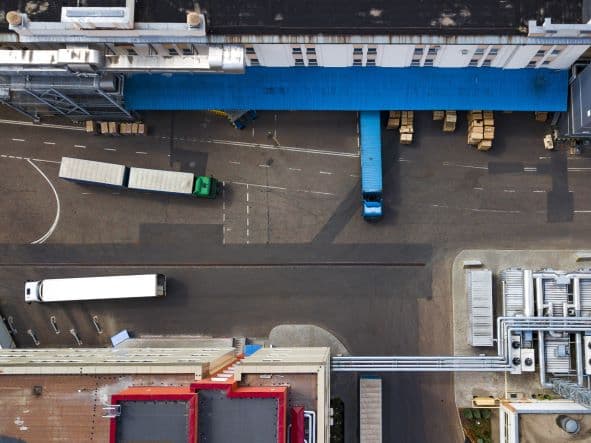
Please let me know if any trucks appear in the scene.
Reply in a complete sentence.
Yes, this view includes a truck.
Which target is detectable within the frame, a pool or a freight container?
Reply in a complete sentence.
The one in the frame is a freight container.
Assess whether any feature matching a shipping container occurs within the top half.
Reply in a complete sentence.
No, no shipping container is visible within the top half.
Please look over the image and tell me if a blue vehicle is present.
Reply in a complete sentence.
Yes, you can see a blue vehicle in this photo.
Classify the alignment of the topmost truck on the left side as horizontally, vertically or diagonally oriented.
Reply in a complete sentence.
From this overhead view, the topmost truck on the left side appears to run horizontally.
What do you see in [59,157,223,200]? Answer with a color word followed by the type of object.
white truck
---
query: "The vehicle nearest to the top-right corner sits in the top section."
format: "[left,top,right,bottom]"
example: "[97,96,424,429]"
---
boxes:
[540,129,556,152]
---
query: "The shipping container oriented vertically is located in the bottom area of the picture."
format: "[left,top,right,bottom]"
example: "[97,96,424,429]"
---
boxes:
[466,269,497,346]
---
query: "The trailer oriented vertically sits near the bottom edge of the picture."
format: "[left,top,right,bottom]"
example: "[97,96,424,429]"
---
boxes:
[360,372,382,443]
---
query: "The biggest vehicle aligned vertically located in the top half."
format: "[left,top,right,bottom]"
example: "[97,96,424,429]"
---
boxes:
[360,111,384,220]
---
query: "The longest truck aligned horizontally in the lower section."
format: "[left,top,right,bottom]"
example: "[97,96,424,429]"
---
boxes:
[27,273,170,303]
